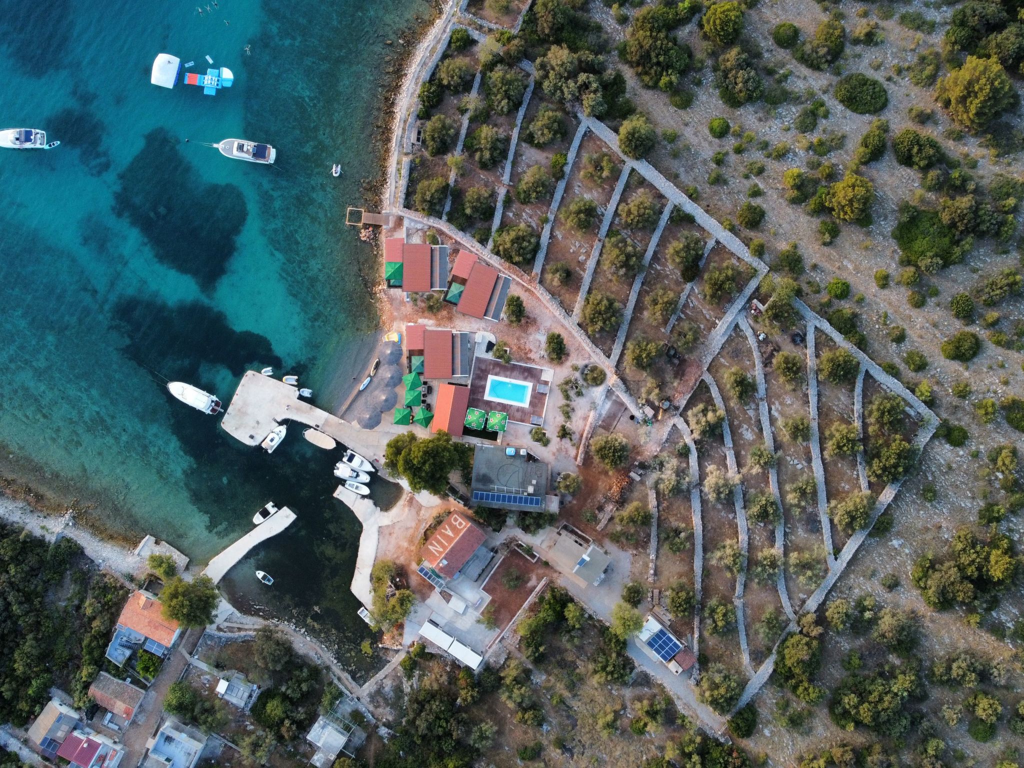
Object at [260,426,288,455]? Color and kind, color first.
white boat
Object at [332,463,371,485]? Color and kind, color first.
white boat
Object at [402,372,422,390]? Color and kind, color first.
green umbrella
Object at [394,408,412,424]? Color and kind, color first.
green umbrella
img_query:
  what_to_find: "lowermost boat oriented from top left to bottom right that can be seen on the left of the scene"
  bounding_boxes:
[357,606,373,625]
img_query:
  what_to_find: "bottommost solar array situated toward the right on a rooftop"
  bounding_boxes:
[647,629,682,663]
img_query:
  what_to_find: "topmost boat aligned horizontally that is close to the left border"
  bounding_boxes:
[0,126,49,148]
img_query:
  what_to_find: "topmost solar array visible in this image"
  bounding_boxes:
[473,491,540,507]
